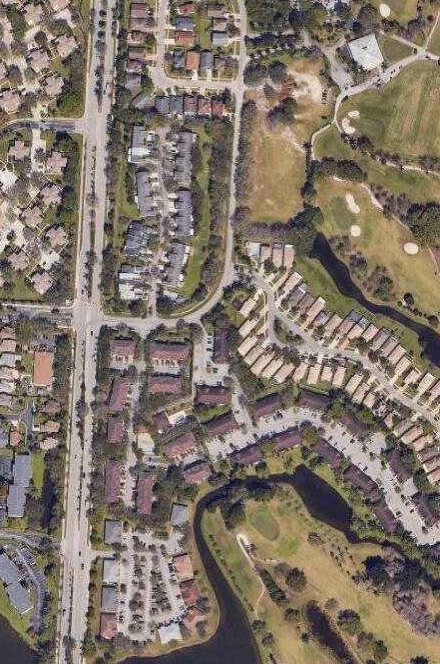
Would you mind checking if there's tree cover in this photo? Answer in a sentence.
Yes, there's tree cover in this view.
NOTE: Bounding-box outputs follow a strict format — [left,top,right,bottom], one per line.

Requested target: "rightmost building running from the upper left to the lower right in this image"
[411,491,440,529]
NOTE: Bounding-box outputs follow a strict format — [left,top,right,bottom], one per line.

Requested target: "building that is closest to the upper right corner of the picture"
[349,33,384,70]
